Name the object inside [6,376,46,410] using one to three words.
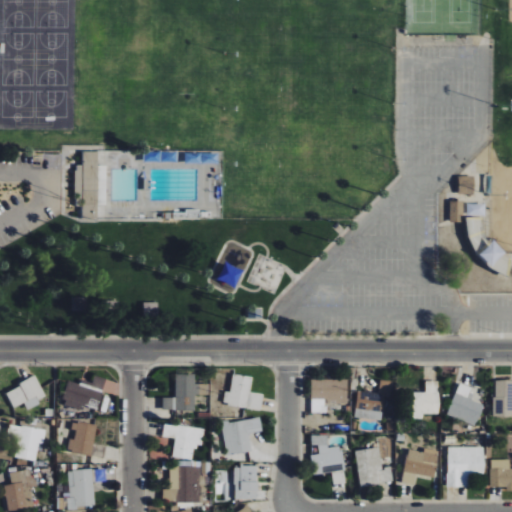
house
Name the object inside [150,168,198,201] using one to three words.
swimming pool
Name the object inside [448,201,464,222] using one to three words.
shed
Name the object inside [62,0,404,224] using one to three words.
sports field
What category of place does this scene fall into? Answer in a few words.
sports ground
